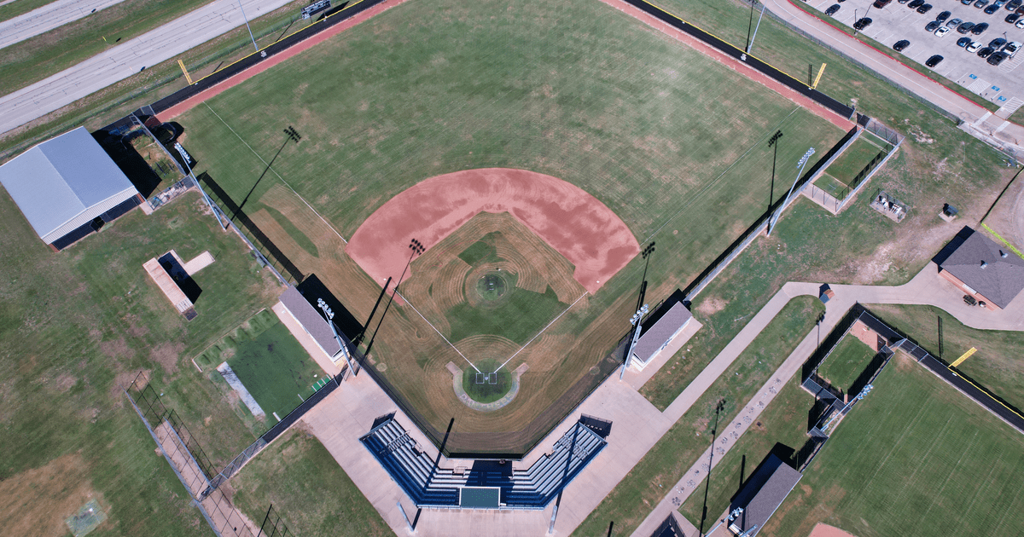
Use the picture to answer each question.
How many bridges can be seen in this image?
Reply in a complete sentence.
The photo contains no bridges.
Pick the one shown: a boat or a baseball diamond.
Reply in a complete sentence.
The one in the frame is a baseball diamond.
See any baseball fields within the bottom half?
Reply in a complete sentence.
Yes, a baseball field appears within the bottom half.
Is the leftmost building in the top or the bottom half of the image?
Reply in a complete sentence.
The leftmost building sits in the top half of the picture.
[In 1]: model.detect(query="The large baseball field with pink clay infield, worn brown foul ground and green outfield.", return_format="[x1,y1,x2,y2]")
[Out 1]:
[143,0,852,456]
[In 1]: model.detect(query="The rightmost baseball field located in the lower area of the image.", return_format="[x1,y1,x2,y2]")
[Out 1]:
[756,353,1024,537]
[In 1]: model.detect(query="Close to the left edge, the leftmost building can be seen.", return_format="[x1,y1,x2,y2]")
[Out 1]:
[0,122,145,252]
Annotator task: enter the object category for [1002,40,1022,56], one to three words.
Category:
vehicle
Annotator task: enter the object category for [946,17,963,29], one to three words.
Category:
vehicle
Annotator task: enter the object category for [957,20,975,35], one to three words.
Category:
car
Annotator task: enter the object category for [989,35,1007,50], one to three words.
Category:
car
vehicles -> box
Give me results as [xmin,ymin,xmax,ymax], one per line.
[1002,40,1022,56]
[933,26,951,38]
[916,3,933,14]
[983,4,1000,15]
[1014,5,1024,16]
[976,46,994,59]
[965,41,983,54]
[971,23,989,35]
[974,0,991,10]
[946,17,963,29]
[1006,0,1023,11]
[825,4,841,16]
[955,36,973,49]
[874,0,891,9]
[907,0,925,10]
[989,35,1007,50]
[1013,18,1024,30]
[1003,13,1021,25]
[935,11,952,23]
[924,20,941,32]
[960,0,975,7]
[957,20,975,35]
[993,0,1011,9]
[854,16,872,30]
[925,53,944,68]
[987,51,1009,66]
[892,40,910,52]
[896,0,910,5]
